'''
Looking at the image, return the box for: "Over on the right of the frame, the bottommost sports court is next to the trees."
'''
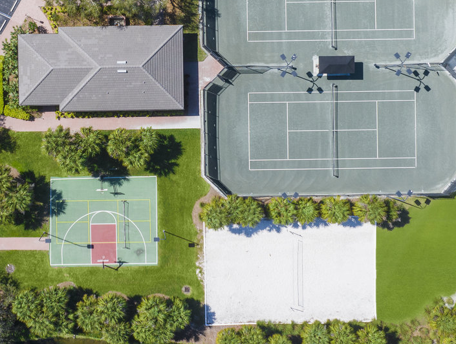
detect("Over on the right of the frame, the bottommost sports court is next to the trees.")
[204,220,377,327]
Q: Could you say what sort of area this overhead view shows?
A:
sports ground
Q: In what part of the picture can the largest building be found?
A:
top left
